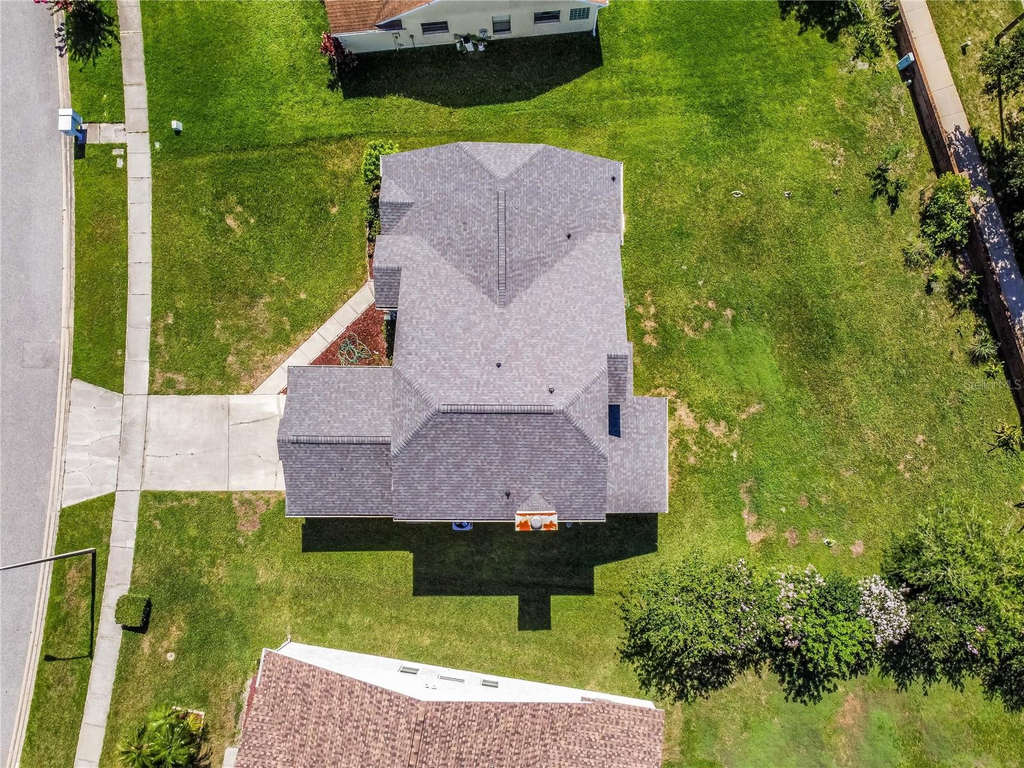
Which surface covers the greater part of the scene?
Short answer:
grass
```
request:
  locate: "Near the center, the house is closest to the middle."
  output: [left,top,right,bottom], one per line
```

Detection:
[271,141,671,530]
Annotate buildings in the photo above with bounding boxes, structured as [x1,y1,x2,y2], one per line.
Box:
[237,631,664,768]
[271,141,671,530]
[326,0,612,54]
